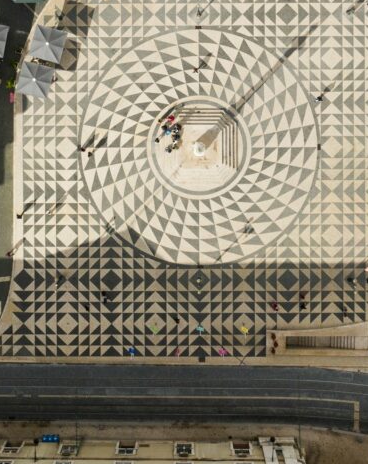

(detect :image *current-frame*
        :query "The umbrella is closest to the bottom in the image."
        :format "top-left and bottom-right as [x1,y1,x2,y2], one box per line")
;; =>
[15,60,54,99]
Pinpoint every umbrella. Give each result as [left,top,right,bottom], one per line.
[0,25,9,57]
[15,60,54,99]
[28,25,67,63]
